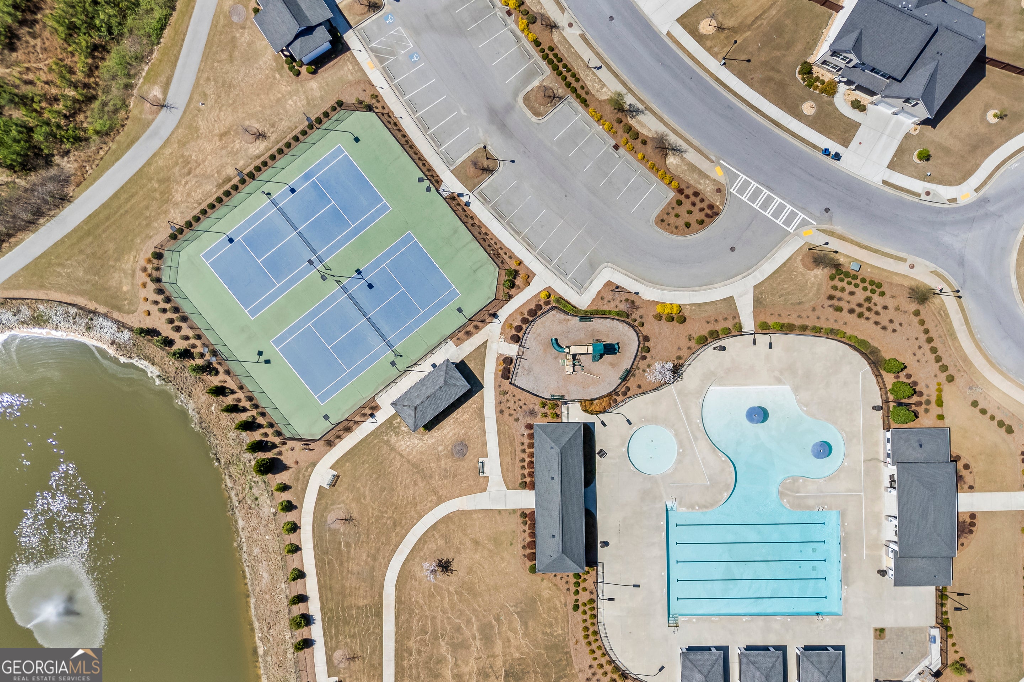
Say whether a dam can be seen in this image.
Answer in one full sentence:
No, this view has no dam in it.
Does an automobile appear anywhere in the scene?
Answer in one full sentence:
No, no automobile is visible in the view.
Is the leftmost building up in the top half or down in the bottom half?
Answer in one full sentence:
You can find the leftmost building in the top half.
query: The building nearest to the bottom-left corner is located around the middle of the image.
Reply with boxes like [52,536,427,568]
[390,358,471,433]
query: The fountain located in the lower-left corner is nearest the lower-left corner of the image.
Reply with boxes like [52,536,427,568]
[0,541,110,673]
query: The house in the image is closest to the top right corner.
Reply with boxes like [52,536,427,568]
[813,0,985,125]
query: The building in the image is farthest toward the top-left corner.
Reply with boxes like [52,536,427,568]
[245,0,334,65]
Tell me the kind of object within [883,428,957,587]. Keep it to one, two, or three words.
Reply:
building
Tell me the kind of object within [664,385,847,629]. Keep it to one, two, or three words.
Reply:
swimming pool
